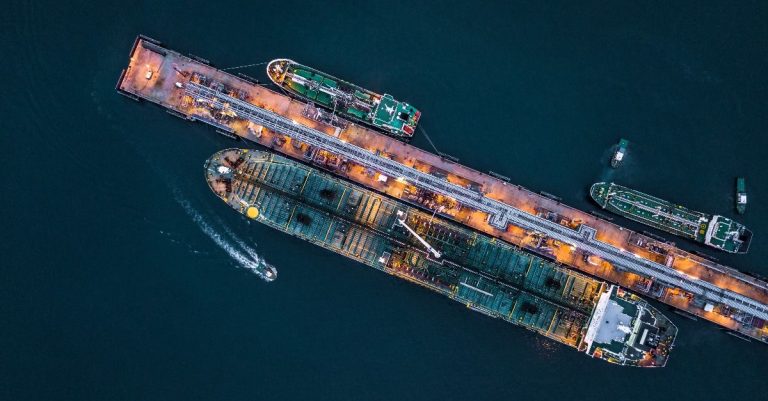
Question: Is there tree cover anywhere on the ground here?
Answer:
No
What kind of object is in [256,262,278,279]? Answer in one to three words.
boat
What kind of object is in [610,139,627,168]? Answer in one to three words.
boat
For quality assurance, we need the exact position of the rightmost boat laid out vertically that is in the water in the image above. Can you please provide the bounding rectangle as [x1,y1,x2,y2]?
[733,177,748,215]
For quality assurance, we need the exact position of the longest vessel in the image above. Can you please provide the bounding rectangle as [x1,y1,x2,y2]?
[203,147,680,367]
